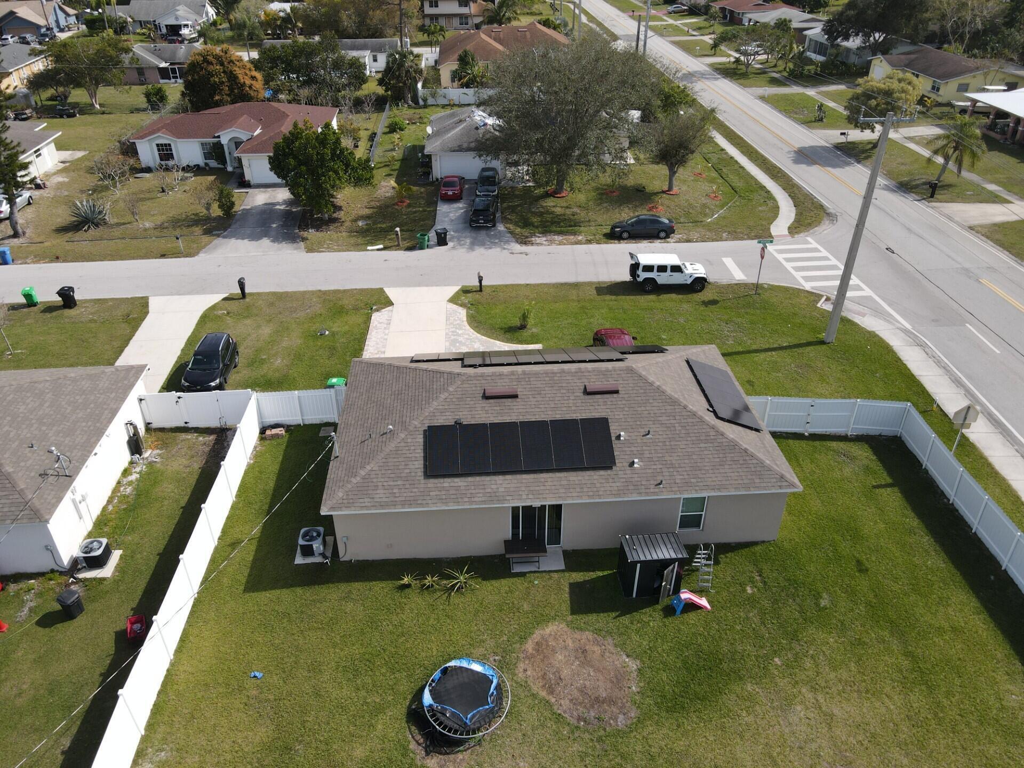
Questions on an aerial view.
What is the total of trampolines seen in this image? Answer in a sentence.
I count 1 trampoline.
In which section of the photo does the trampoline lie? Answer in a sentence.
The trampoline is in the bottom part of the image.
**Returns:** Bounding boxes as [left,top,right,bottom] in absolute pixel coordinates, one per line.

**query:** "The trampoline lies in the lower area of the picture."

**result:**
[415,658,512,758]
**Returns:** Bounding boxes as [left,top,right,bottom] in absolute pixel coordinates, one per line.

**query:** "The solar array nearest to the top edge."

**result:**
[413,345,671,366]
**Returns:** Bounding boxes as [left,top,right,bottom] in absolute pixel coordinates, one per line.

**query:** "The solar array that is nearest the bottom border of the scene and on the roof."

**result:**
[426,419,617,478]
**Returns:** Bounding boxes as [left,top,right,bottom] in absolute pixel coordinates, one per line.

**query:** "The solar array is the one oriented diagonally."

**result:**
[687,357,765,434]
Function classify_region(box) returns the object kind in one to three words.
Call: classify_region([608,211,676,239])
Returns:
car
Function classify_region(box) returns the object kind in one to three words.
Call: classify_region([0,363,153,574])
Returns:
house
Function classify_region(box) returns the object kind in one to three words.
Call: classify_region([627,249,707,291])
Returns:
car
